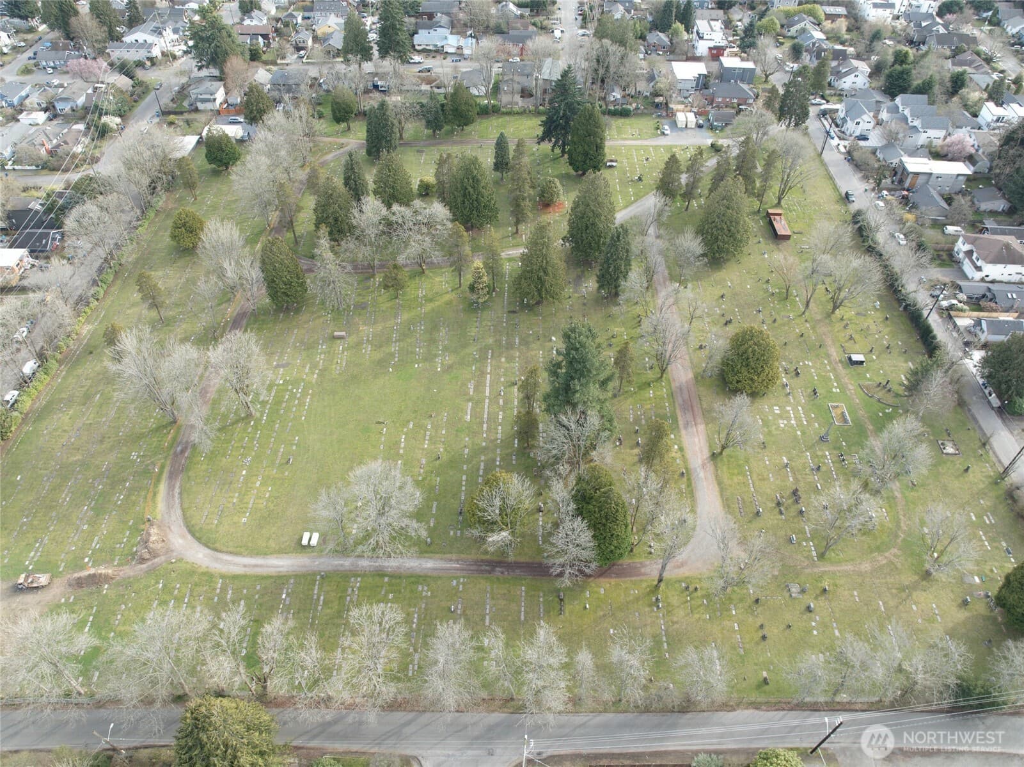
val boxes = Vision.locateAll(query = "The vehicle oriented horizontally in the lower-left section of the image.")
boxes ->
[8,574,50,593]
